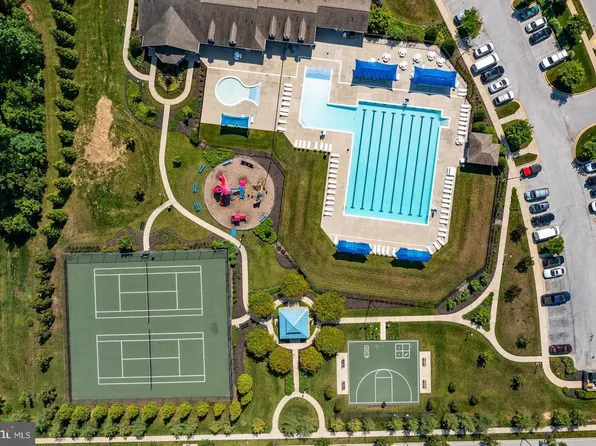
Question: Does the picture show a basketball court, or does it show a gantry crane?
basketball court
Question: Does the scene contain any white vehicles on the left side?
No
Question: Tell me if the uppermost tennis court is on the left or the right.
left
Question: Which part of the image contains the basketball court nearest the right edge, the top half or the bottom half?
bottom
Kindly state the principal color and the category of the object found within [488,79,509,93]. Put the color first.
white car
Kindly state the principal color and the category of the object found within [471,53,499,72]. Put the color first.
white vehicle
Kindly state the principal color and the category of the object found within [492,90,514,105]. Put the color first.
white car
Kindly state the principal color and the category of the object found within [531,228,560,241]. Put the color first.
white vehicle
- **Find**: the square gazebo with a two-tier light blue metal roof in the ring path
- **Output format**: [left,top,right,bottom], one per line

[279,307,309,338]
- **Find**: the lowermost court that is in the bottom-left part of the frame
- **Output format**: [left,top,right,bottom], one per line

[69,324,232,401]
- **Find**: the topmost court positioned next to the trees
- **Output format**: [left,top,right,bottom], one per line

[66,249,229,327]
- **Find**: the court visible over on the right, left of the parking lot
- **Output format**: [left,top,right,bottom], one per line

[348,340,419,404]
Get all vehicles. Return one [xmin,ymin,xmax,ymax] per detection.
[471,53,499,72]
[584,176,596,186]
[524,189,548,200]
[527,203,549,213]
[516,8,539,23]
[480,66,503,82]
[471,44,493,58]
[488,79,509,93]
[492,90,514,105]
[530,214,554,225]
[540,293,569,305]
[539,51,569,69]
[523,19,545,34]
[527,29,551,44]
[542,268,565,278]
[450,9,471,25]
[531,228,560,241]
[547,344,571,355]
[519,164,542,176]
[540,256,563,267]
